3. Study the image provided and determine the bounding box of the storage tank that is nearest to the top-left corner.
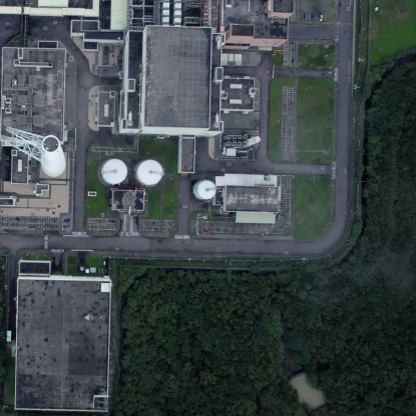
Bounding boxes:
[96,157,128,189]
